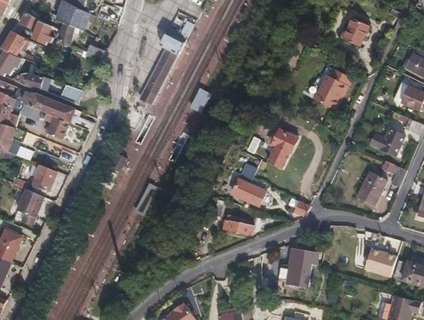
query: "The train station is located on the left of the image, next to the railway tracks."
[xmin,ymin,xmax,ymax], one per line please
[48,0,249,320]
